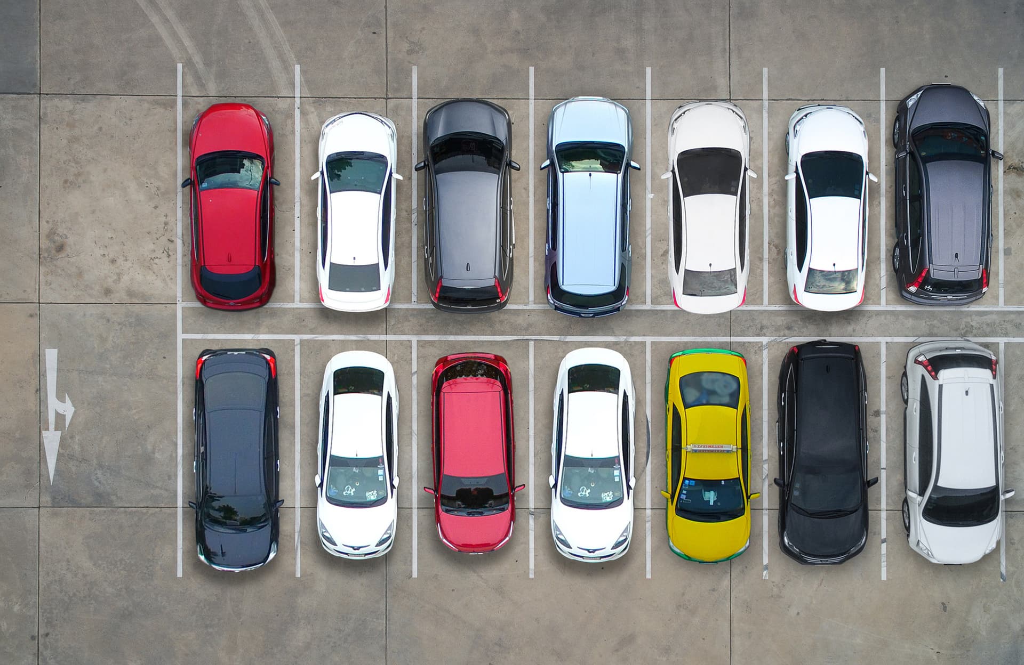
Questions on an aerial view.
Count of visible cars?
14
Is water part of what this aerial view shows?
No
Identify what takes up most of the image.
paved ground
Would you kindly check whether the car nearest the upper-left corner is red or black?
red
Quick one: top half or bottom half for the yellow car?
bottom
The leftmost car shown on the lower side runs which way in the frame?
vertically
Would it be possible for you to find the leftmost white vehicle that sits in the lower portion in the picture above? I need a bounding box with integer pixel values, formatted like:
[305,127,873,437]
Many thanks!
[313,351,401,559]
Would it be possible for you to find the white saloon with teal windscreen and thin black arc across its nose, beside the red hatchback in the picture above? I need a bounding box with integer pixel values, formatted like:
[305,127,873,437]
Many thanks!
[311,111,402,311]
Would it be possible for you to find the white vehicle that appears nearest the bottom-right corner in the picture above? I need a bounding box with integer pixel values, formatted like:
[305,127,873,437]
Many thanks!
[905,341,1012,568]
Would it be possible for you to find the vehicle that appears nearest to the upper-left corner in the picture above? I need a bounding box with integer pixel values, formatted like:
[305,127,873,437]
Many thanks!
[181,103,279,311]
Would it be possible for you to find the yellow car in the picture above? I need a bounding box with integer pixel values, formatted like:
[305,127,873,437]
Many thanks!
[662,349,760,566]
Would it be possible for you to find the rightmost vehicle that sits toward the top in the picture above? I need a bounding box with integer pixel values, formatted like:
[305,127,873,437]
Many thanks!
[895,81,1002,305]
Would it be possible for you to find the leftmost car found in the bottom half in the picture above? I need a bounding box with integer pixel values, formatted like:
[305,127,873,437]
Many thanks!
[188,349,283,571]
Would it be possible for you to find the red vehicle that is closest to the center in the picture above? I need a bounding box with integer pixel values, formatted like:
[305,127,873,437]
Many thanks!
[424,353,525,553]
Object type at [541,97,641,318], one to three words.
car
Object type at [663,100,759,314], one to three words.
car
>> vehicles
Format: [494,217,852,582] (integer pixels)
[181,103,279,311]
[895,81,1002,305]
[188,349,283,571]
[663,100,759,314]
[424,353,525,553]
[775,341,880,566]
[311,111,402,311]
[662,349,760,566]
[550,348,638,562]
[313,351,401,559]
[415,98,521,314]
[541,97,641,318]
[905,341,1012,568]
[782,104,878,311]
